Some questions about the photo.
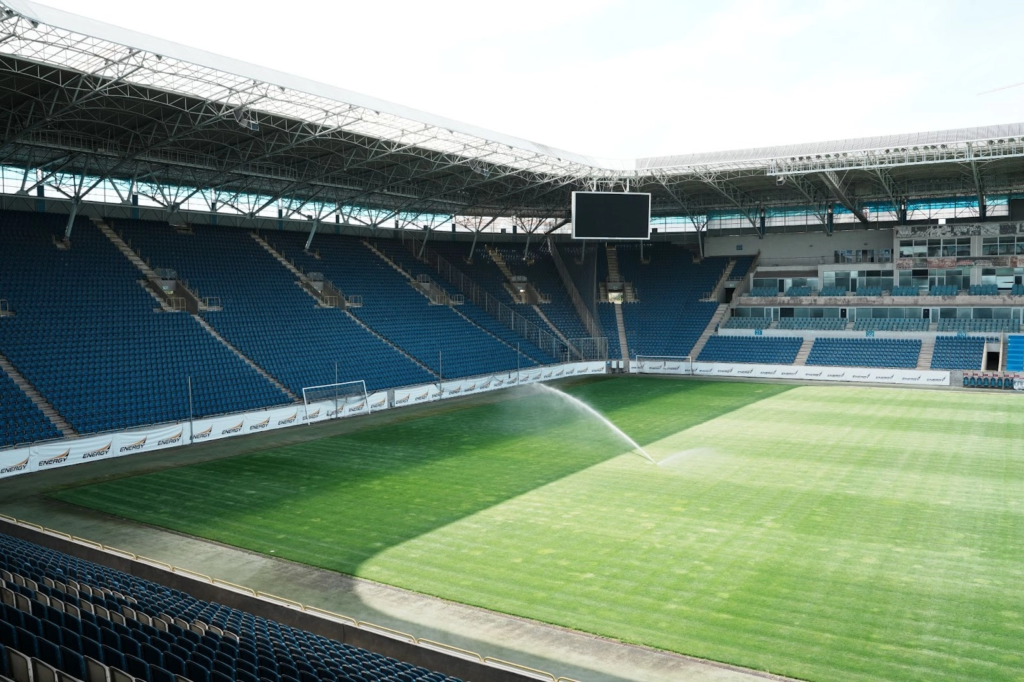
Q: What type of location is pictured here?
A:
sports ground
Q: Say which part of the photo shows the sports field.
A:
bottom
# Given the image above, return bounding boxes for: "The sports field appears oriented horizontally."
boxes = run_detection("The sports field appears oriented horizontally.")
[42,376,1024,682]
